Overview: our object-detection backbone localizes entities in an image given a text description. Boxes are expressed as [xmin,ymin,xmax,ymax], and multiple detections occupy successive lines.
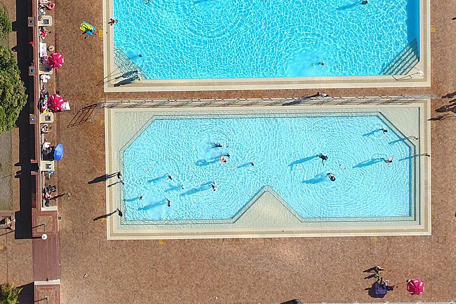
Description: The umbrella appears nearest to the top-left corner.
[47,51,64,69]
